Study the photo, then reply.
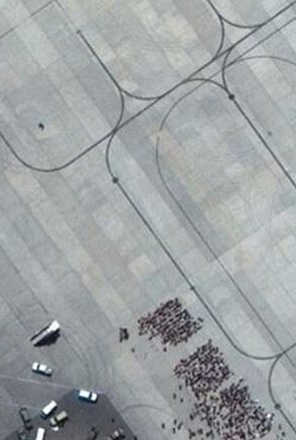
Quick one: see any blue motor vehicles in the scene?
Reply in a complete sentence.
No, no blue motor vehicle can be seen from above.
